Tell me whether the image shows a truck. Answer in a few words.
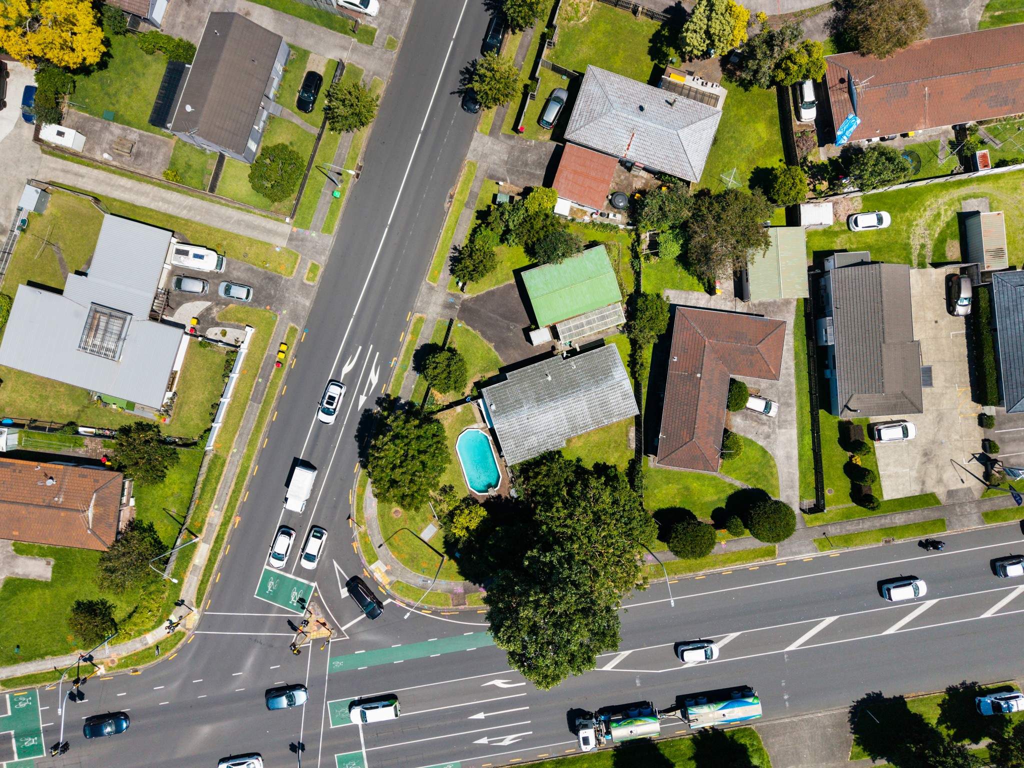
Yes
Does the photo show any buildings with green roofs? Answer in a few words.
Yes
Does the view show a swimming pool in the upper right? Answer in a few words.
No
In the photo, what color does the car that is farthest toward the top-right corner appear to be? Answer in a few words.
white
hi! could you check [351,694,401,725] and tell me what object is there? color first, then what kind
white van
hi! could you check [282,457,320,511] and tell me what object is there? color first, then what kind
white truck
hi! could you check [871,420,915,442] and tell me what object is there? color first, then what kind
white car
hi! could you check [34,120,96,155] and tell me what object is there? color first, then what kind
white camper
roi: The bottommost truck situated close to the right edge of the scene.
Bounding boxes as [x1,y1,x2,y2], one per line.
[976,688,1024,718]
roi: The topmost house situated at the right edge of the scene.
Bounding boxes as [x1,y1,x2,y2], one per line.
[818,23,1024,147]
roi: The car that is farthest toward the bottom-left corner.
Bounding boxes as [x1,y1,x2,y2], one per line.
[84,710,133,738]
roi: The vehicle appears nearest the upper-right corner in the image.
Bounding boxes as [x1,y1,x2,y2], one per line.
[795,79,820,124]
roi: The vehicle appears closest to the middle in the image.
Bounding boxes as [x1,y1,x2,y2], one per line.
[317,379,348,425]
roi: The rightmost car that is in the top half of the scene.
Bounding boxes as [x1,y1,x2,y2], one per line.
[948,275,973,317]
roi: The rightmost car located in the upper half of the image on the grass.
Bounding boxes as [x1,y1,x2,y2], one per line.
[846,209,890,233]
